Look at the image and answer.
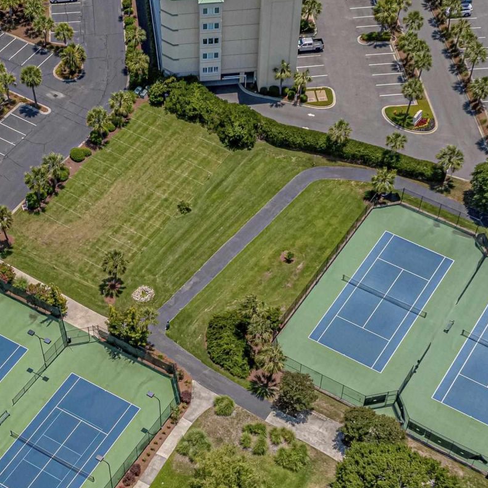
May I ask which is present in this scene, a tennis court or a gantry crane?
tennis court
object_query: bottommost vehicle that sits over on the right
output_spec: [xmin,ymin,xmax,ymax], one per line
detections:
[299,38,326,54]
